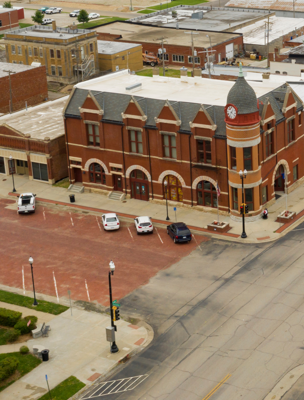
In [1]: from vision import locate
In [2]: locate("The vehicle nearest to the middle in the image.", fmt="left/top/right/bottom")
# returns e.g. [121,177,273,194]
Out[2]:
[135,216,153,236]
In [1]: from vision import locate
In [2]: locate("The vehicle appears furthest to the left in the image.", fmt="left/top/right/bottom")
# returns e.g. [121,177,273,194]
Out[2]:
[14,193,38,213]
